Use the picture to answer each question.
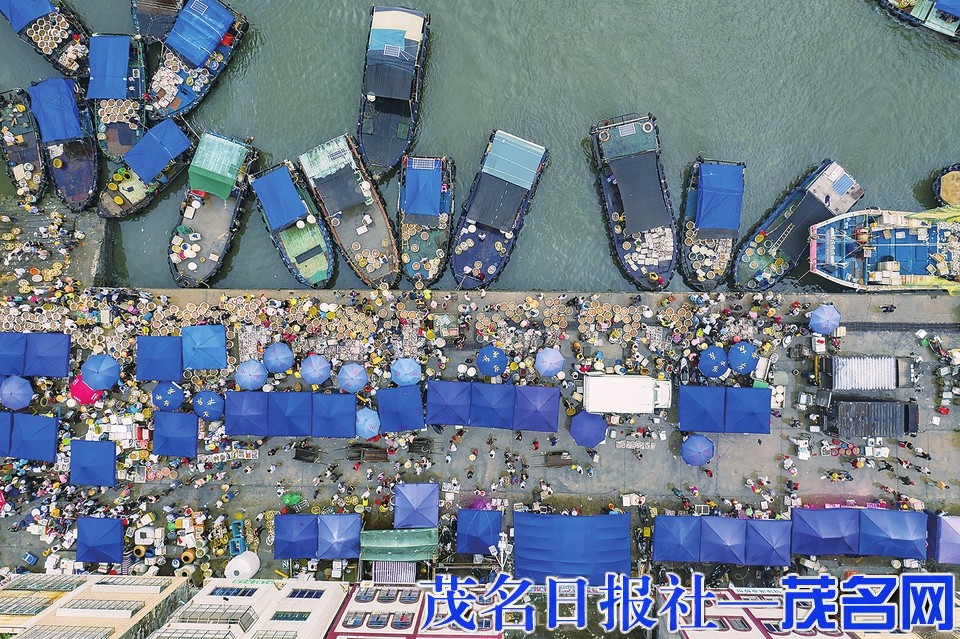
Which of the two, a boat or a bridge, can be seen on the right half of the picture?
boat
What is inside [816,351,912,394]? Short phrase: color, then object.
white truck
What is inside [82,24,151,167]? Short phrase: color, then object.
blue boat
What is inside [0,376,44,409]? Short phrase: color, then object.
blue umbrella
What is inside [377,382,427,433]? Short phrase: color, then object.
blue tent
